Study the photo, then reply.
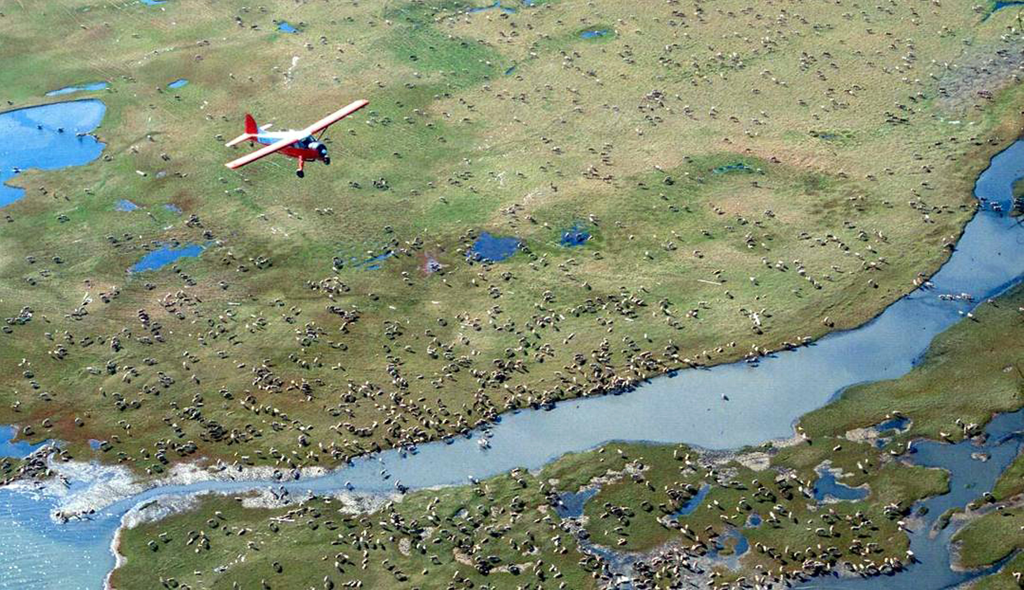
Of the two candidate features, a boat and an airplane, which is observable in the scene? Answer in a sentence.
The image shows an airplane.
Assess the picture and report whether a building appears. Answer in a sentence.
No, the frame has no building in it.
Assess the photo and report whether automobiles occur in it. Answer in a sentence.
No, I find no automobile anywhere in the image.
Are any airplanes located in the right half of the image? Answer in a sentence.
No, no airplane can be made out in the right half of the image.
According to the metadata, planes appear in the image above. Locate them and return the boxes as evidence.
[225,100,369,177]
